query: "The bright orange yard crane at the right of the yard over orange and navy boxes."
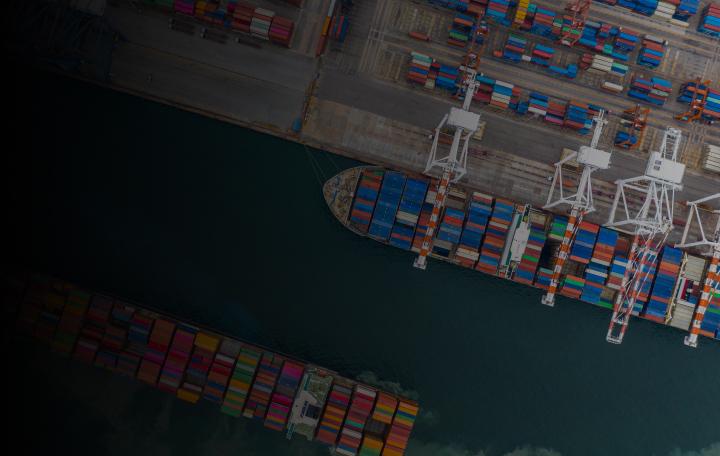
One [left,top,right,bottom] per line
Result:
[665,80,709,126]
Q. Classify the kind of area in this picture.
port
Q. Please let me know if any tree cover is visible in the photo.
No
